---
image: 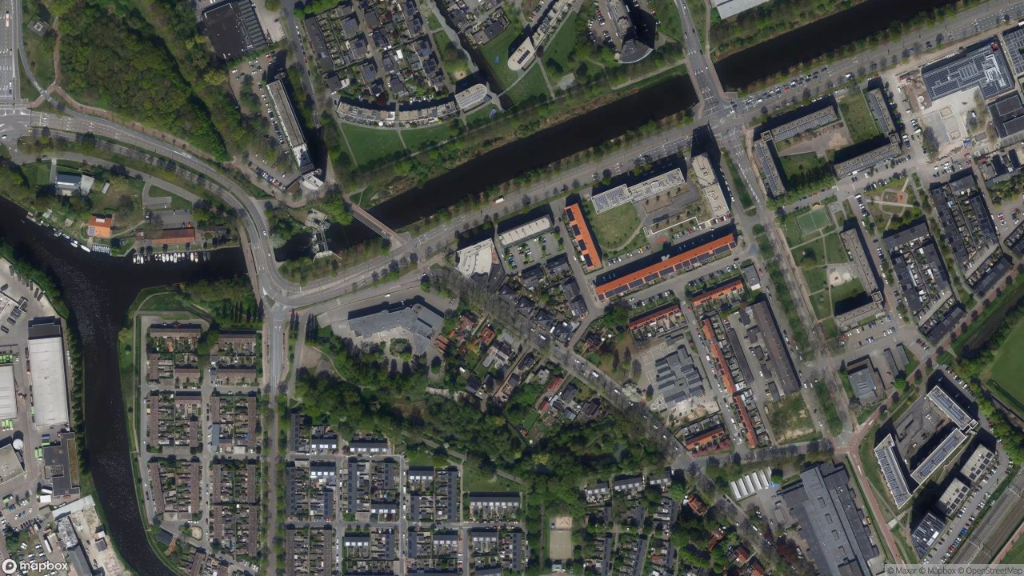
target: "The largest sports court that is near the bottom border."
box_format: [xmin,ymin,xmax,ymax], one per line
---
[549,529,573,560]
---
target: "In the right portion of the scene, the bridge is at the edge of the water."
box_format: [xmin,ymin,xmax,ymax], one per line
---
[684,54,739,112]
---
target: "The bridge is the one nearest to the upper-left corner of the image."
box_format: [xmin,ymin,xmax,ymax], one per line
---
[238,240,278,281]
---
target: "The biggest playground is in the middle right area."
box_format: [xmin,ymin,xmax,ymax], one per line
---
[828,264,853,285]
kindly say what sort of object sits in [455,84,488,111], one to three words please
building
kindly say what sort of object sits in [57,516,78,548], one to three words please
shed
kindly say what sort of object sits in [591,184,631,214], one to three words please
building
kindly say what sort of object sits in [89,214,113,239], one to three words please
house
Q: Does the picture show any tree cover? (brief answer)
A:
Yes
